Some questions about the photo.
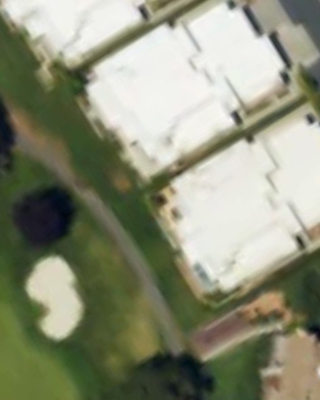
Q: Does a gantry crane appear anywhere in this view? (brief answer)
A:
No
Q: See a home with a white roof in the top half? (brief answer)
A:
Yes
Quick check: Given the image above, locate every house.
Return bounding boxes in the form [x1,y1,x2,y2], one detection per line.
[2,0,153,62]
[172,106,320,288]
[86,0,291,180]
[265,337,320,400]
